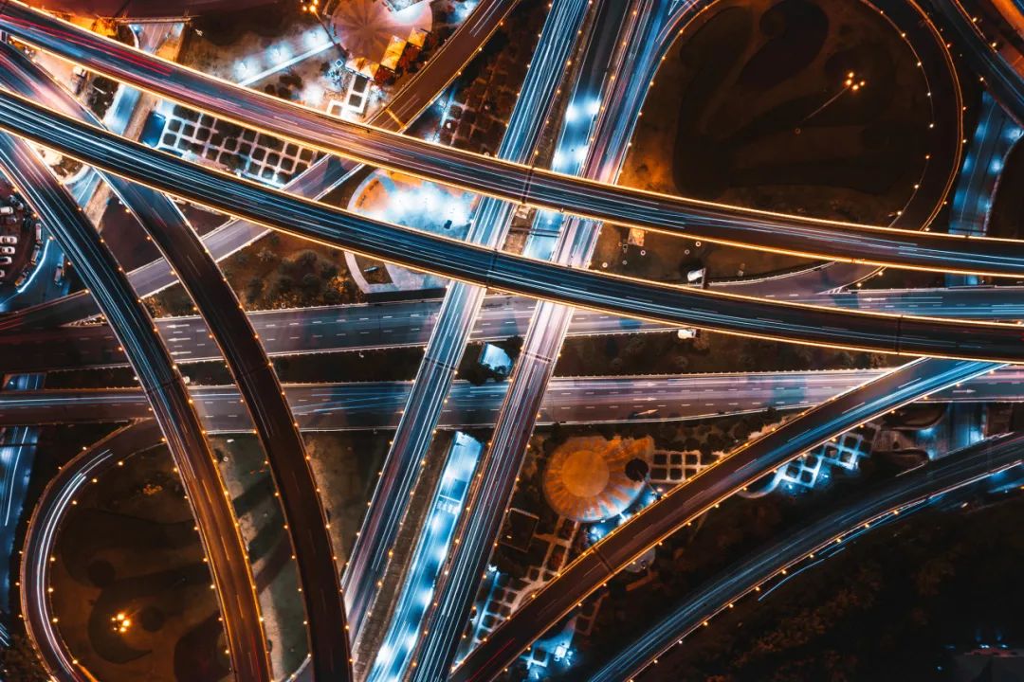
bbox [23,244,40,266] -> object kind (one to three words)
vehicle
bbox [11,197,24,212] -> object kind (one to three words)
vehicle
